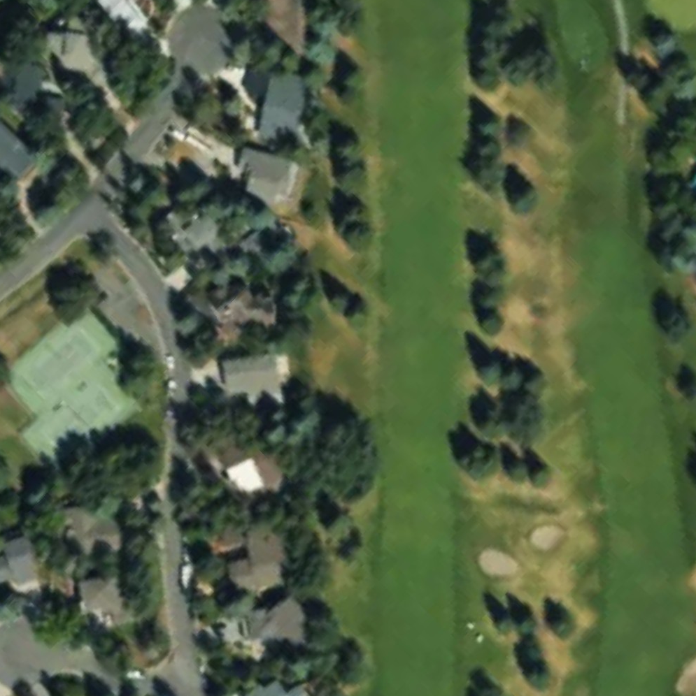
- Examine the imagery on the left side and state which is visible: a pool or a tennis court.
tennis court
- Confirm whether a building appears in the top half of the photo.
Yes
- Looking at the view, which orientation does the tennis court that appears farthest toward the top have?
diagonally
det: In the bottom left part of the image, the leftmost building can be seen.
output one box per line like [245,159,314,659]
[0,539,39,589]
